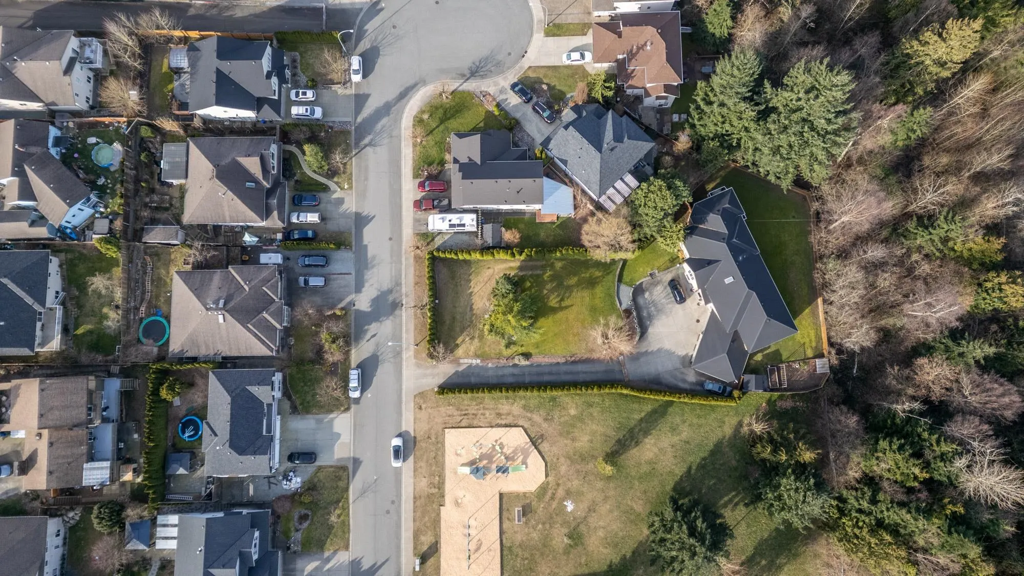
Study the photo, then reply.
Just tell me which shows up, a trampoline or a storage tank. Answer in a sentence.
There is a trampoline in the scene.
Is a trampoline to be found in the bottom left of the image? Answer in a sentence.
Yes, the scene does show a trampoline in the bottom left of the image.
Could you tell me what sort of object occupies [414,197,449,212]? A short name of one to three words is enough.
vehicle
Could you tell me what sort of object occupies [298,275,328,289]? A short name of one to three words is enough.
car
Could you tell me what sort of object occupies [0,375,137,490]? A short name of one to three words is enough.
house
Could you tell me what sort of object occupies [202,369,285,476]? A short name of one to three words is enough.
house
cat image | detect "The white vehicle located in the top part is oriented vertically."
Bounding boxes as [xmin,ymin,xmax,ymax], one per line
[349,55,363,84]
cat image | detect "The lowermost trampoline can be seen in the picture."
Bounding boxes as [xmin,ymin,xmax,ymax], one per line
[178,416,203,441]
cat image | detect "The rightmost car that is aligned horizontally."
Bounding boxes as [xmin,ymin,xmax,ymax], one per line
[702,379,733,397]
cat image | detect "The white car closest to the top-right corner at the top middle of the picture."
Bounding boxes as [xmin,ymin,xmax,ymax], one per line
[562,50,592,65]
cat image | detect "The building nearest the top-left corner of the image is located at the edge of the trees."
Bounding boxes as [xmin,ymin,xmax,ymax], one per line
[0,25,118,113]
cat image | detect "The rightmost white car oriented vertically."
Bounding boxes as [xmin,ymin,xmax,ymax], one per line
[390,436,404,466]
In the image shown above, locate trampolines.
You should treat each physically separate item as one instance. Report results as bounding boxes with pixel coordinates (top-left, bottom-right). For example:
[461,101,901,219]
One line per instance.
[178,416,203,441]
[138,315,170,346]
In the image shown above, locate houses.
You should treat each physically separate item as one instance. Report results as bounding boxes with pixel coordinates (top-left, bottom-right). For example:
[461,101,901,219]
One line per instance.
[157,504,282,576]
[202,369,285,476]
[168,265,295,361]
[0,375,137,490]
[0,118,108,239]
[539,103,656,211]
[680,185,799,383]
[0,250,72,356]
[0,509,67,576]
[0,25,118,113]
[163,137,289,227]
[592,11,692,101]
[451,130,574,222]
[170,35,291,121]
